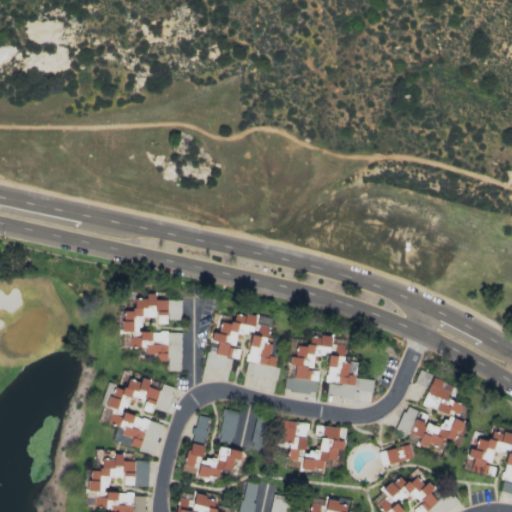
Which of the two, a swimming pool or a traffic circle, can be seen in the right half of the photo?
swimming pool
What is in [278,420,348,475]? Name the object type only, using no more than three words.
house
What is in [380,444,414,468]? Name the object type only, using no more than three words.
building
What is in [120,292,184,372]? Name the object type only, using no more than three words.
house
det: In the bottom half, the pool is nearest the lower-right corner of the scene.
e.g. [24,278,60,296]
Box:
[347,443,388,482]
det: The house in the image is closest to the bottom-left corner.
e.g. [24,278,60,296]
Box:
[86,451,150,512]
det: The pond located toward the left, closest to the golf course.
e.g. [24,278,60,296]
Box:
[0,352,81,512]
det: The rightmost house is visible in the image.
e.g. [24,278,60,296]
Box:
[464,425,512,493]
